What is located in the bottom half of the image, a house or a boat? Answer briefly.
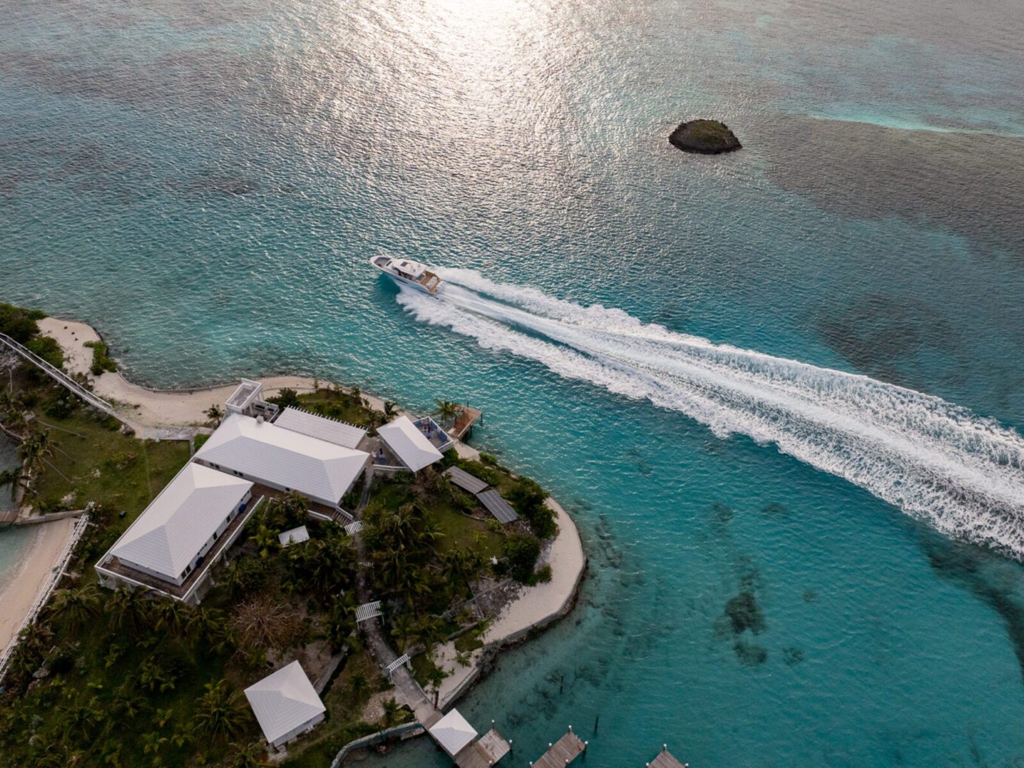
house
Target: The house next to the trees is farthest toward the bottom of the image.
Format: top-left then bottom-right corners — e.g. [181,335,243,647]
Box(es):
[244,659,325,766]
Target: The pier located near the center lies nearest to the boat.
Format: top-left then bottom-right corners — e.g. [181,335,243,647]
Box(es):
[443,400,482,441]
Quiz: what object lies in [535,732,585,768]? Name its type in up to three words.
pier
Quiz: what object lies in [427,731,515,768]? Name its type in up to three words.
pier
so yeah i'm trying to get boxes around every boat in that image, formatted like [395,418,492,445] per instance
[371,255,443,296]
